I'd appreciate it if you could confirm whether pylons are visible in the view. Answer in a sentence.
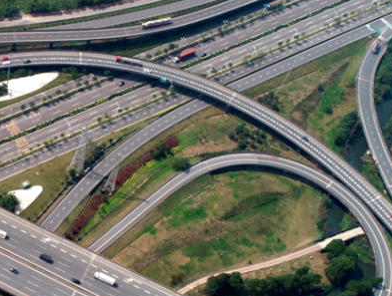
Yes, this view includes a pylon.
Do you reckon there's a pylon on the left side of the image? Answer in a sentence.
Yes, looking on the left side of the image, one can make out a pylon.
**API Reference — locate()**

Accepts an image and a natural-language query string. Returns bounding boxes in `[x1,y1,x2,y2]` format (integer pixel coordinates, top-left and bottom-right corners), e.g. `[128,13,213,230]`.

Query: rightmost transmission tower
[98,149,128,194]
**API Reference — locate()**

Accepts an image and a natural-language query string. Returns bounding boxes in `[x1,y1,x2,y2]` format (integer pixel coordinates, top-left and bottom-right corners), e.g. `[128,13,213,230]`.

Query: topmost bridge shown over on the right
[355,38,392,199]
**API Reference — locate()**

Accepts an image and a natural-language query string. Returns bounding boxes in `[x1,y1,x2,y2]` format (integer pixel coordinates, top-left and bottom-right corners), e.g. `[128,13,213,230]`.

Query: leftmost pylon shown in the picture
[68,125,95,175]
